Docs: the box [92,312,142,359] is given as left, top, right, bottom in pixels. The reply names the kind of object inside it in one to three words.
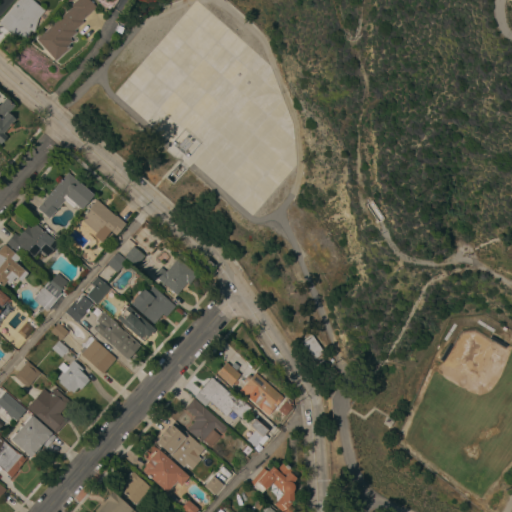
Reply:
building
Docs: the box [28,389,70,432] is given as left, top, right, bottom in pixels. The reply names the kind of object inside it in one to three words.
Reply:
house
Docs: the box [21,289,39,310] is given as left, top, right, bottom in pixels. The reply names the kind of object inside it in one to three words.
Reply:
swimming pool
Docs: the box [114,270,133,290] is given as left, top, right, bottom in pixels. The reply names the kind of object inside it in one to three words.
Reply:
swimming pool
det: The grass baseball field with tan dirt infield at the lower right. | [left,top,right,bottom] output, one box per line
[402,328,512,502]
